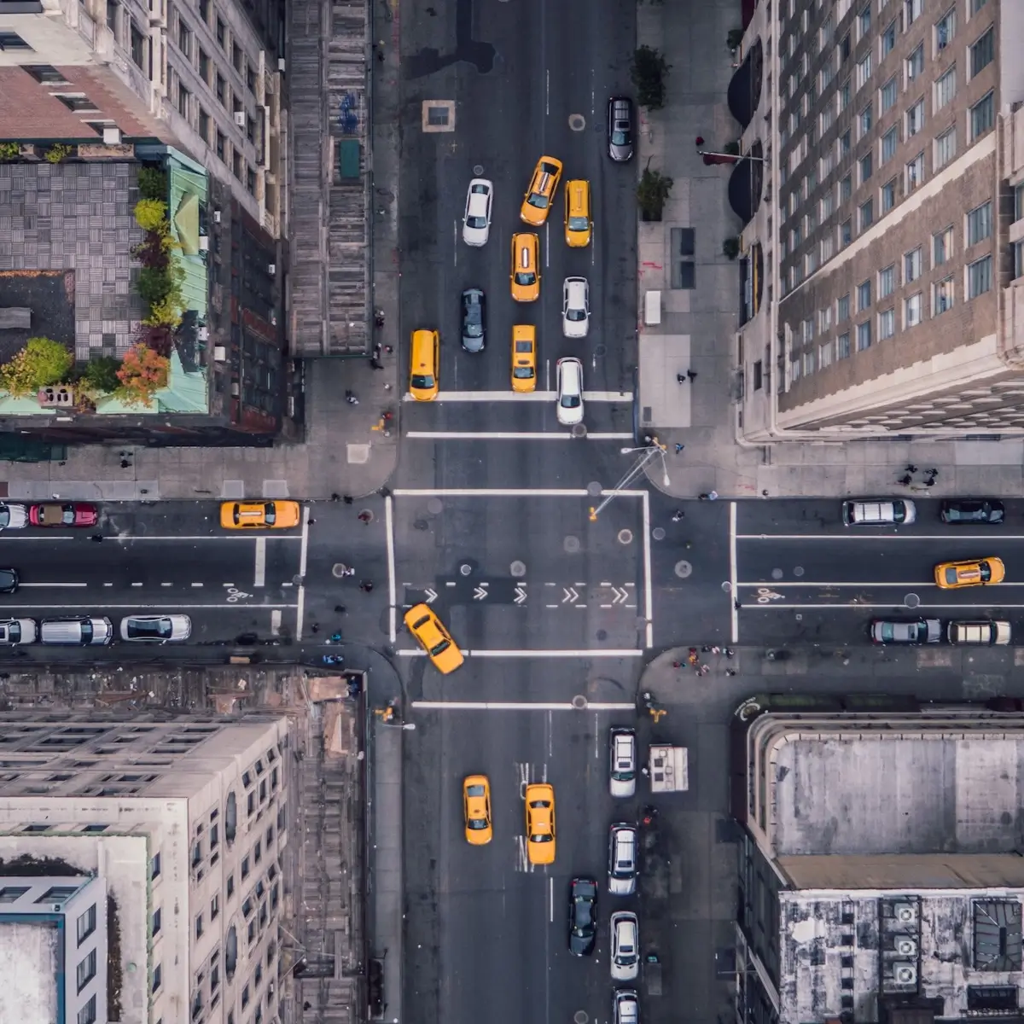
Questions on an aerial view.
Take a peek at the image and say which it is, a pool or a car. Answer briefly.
car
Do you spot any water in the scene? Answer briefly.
No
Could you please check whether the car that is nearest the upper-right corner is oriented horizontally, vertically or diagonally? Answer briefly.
vertically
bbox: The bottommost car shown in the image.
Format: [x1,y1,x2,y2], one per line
[612,985,641,1024]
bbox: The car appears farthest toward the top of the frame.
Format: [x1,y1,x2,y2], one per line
[606,96,637,165]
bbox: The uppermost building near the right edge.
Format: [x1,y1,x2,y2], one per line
[726,0,1024,449]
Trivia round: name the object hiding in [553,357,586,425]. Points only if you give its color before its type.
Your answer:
white car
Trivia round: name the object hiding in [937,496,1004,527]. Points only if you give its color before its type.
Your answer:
black car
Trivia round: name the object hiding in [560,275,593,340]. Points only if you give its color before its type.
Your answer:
white car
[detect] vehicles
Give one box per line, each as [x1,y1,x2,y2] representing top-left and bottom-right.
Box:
[522,156,560,229]
[31,500,102,530]
[0,565,25,596]
[553,357,586,425]
[567,874,600,954]
[607,725,640,797]
[612,985,641,1024]
[120,612,194,644]
[0,615,41,648]
[943,617,1011,648]
[508,232,542,303]
[508,325,539,393]
[606,96,637,165]
[462,772,495,845]
[840,496,915,528]
[457,288,488,353]
[867,616,942,648]
[38,615,116,648]
[930,555,1005,589]
[562,179,594,249]
[607,819,640,894]
[609,907,641,981]
[221,498,302,531]
[524,781,558,864]
[0,499,36,532]
[407,328,441,403]
[937,496,1004,527]
[461,178,494,249]
[560,275,593,340]
[408,602,461,673]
